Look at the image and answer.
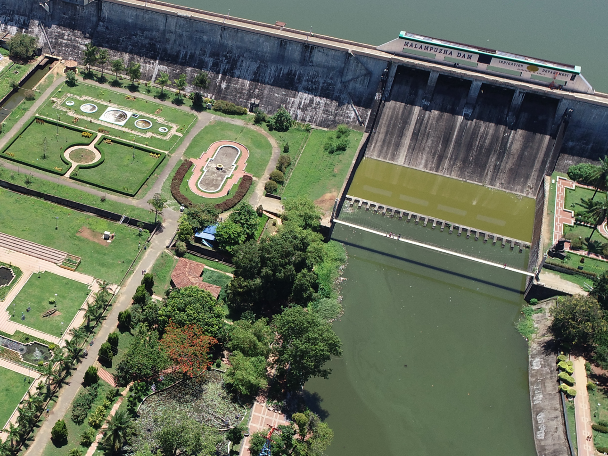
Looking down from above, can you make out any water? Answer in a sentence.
Yes, there is water in the image.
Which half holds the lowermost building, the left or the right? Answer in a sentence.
The lowermost building appears in the left half of the scene.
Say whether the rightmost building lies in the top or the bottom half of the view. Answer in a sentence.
Seen from above, the rightmost building lies in the top half of the view.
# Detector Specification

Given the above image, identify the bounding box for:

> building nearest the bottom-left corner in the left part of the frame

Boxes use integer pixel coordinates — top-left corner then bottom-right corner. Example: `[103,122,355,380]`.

[170,257,222,296]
